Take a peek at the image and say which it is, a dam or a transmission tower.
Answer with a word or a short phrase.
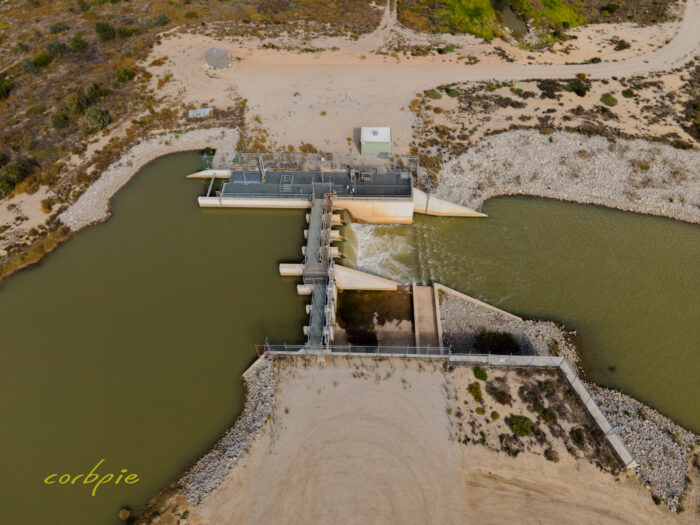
dam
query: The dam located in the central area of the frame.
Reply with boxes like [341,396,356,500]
[280,214,444,354]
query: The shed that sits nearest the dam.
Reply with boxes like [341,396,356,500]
[360,127,393,155]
